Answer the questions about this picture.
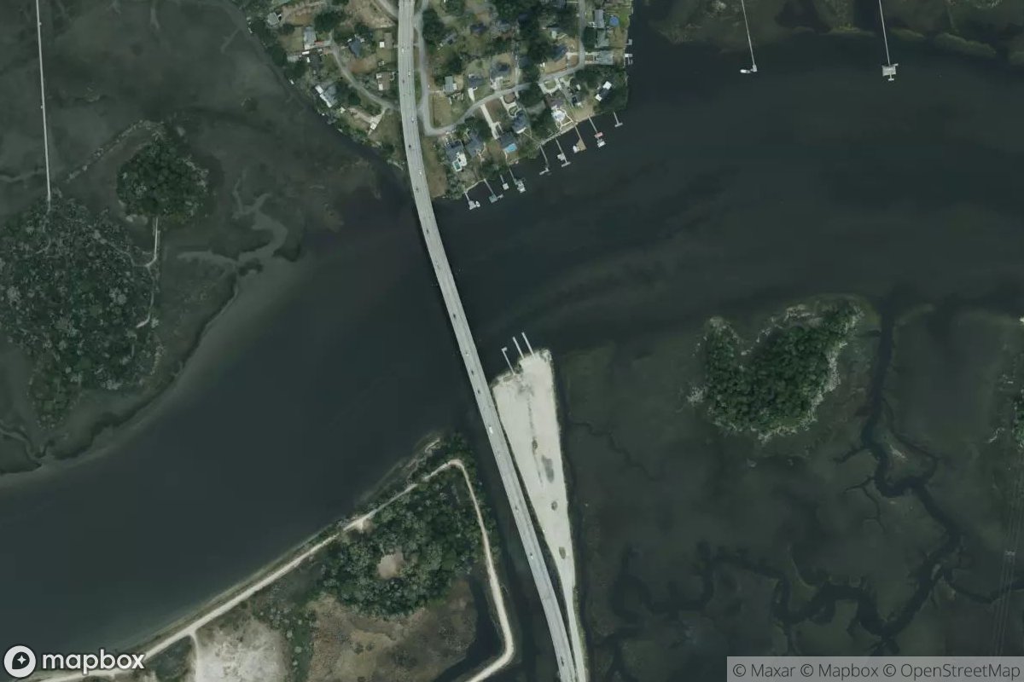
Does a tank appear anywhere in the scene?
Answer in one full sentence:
No, there appears to be no tank in this shot.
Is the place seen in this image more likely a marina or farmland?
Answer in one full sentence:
It's a marina.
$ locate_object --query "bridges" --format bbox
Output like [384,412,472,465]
[399,0,578,682]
